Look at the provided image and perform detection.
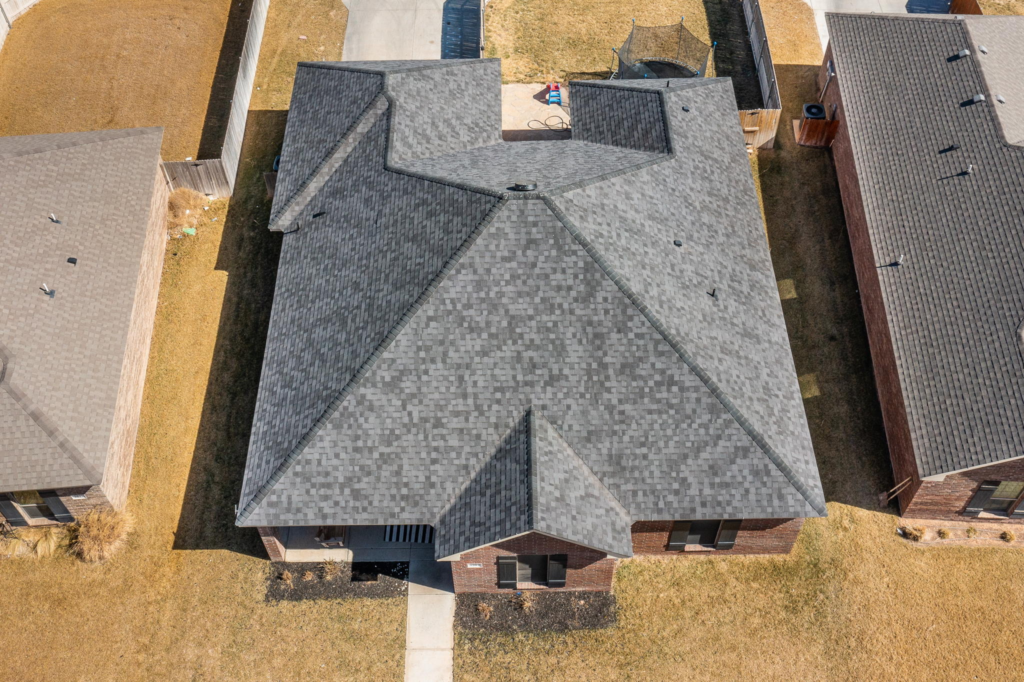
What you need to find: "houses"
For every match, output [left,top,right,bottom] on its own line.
[0,126,174,536]
[235,58,828,594]
[821,13,1024,525]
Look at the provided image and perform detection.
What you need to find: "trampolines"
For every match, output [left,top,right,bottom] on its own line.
[609,17,716,80]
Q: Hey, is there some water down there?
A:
No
